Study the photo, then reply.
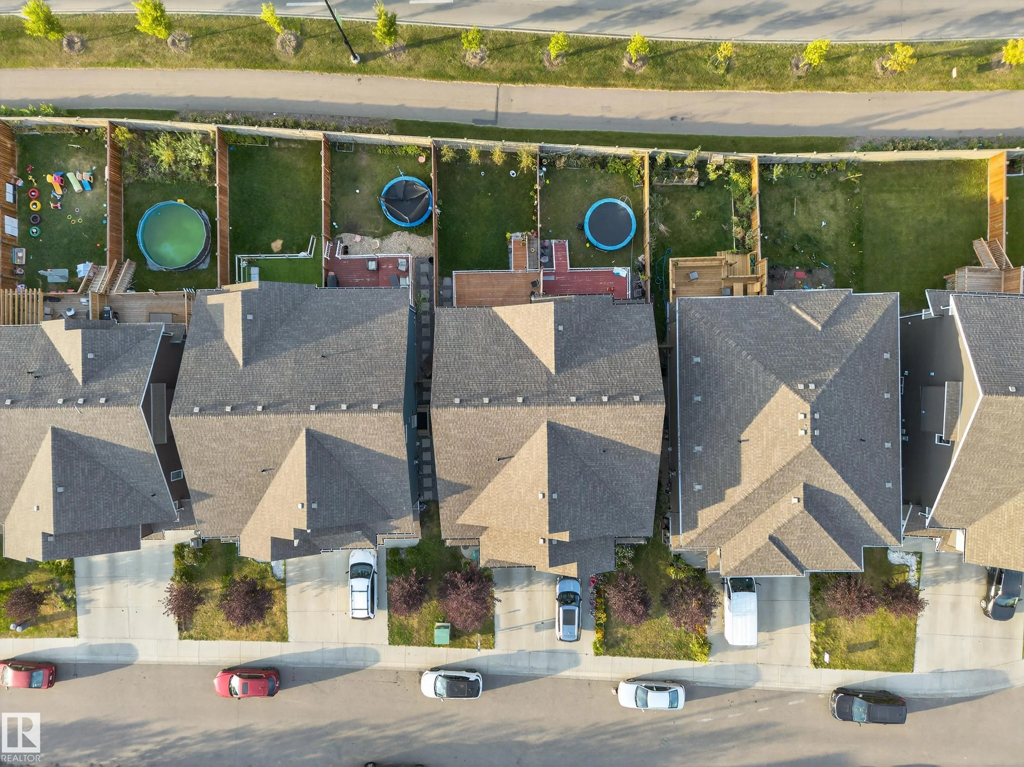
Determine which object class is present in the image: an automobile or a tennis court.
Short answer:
automobile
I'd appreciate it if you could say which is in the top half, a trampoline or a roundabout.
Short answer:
trampoline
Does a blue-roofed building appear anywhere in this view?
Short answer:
No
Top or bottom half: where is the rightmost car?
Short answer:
bottom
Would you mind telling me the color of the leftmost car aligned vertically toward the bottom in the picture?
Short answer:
white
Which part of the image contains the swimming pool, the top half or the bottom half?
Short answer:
top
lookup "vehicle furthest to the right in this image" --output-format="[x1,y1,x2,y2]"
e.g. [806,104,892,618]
[978,566,1020,621]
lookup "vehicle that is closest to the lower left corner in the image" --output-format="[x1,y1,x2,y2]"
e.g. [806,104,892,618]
[0,660,63,694]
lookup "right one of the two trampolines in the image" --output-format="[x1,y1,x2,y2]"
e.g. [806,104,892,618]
[584,196,636,252]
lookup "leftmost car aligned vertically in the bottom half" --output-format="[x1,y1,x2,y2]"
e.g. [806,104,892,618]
[346,549,379,617]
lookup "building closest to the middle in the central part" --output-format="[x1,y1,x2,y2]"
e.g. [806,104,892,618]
[430,291,665,577]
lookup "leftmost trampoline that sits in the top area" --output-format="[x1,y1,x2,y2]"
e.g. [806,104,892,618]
[377,172,433,229]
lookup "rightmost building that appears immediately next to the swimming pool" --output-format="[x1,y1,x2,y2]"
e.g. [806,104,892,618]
[169,282,425,561]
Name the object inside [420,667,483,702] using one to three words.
car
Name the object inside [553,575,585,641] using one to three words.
car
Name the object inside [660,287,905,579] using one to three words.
house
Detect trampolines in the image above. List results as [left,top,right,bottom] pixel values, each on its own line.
[584,196,636,252]
[377,172,433,229]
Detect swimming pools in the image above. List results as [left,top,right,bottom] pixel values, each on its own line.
[136,199,215,273]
